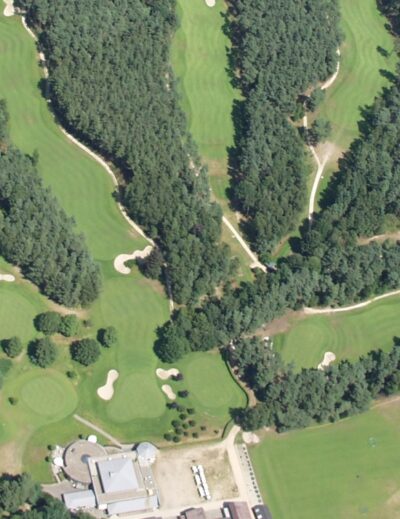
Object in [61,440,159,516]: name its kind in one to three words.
building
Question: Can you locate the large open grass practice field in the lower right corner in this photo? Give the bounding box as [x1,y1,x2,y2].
[252,394,400,519]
